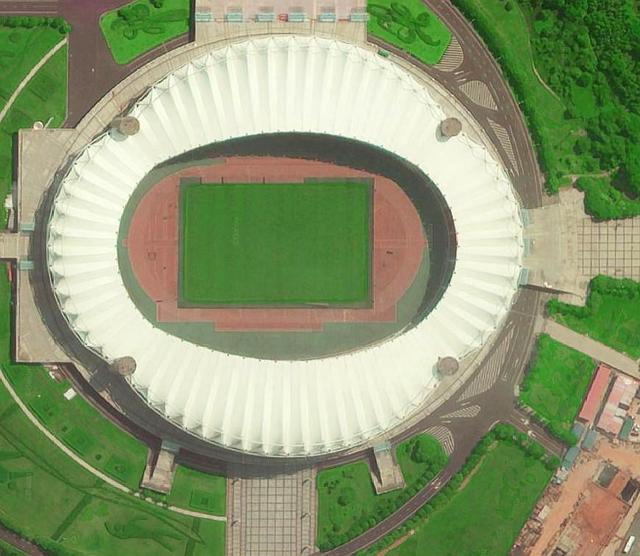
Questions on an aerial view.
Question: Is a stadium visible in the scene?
Yes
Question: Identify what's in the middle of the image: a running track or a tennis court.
running track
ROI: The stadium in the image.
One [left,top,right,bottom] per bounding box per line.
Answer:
[47,34,523,456]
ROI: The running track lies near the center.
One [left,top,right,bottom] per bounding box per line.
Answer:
[121,157,425,332]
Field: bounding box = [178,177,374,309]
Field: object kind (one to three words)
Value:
sports field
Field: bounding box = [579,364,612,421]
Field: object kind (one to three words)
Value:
building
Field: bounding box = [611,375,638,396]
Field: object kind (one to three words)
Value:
shed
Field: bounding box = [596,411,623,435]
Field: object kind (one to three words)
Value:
shed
